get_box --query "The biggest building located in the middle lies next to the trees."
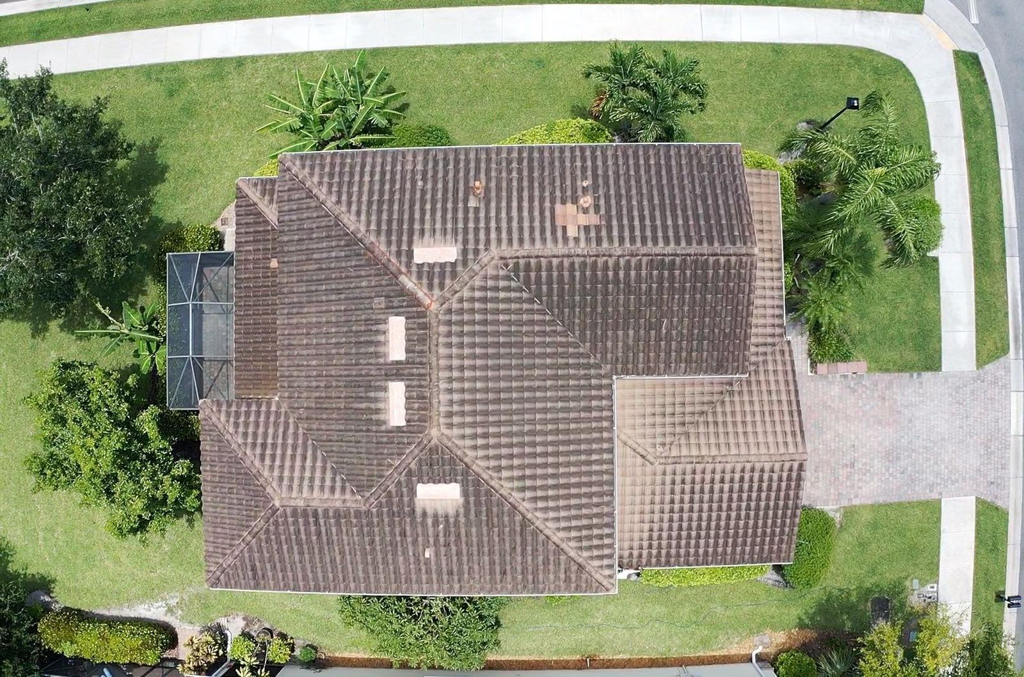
[198,140,810,598]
